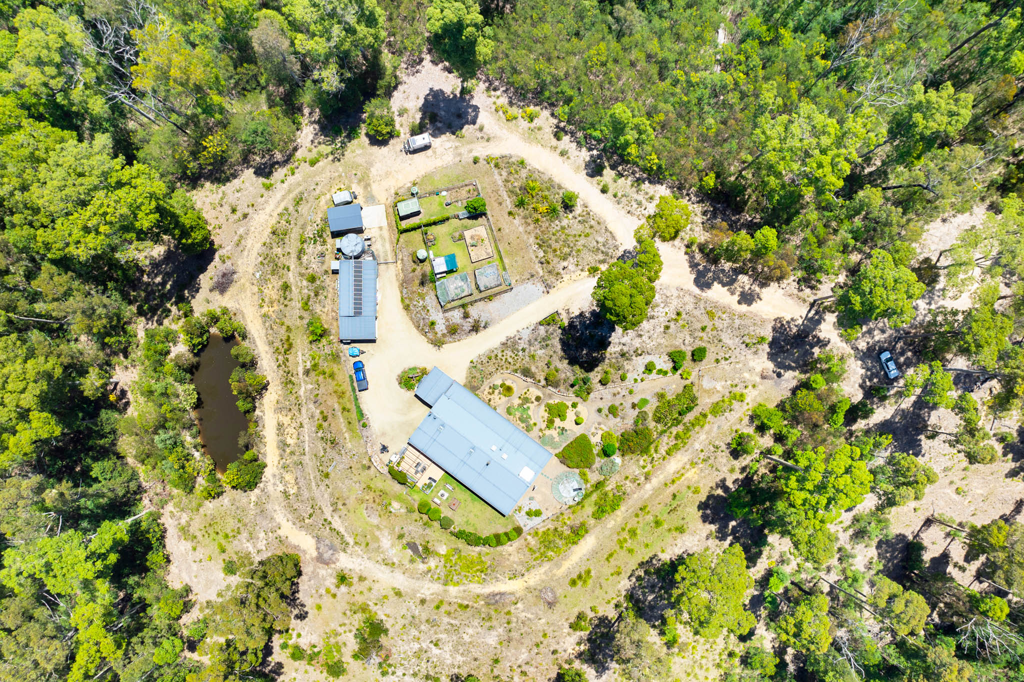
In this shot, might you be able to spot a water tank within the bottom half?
No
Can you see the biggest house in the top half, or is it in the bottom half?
bottom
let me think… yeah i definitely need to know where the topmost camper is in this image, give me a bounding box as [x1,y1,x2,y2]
[403,131,433,151]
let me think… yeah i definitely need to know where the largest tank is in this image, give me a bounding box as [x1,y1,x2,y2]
[340,233,366,260]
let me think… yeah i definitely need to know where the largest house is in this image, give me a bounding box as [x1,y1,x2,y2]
[408,381,554,516]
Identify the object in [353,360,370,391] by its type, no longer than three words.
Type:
vehicle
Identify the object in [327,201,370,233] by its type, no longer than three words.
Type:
shed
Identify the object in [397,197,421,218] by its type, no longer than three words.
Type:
shed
